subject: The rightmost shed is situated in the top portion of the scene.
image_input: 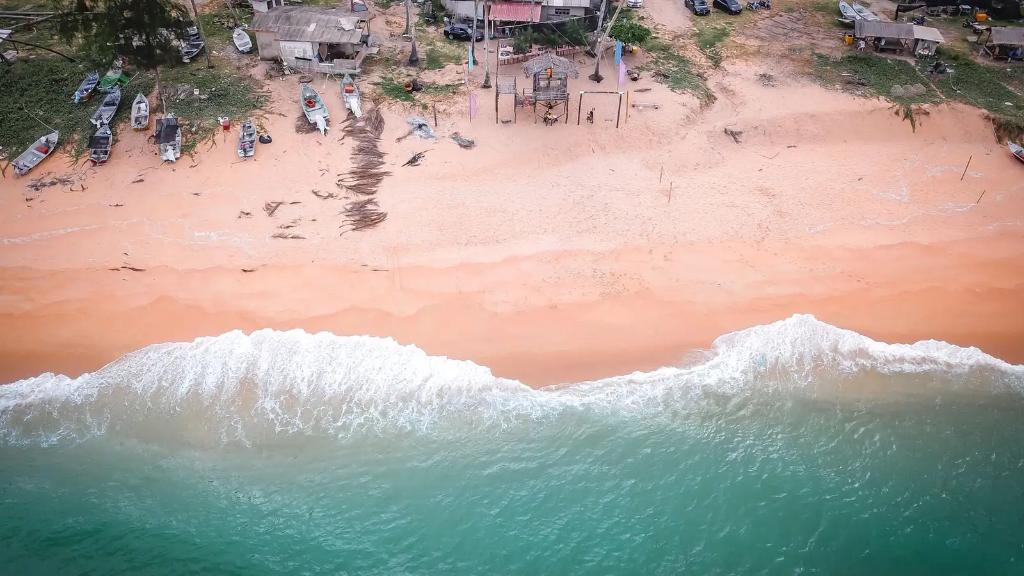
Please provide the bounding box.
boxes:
[974,24,1024,61]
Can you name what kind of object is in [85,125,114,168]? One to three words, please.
boat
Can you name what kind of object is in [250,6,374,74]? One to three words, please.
house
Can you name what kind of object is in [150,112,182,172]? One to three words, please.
boat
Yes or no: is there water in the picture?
Yes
